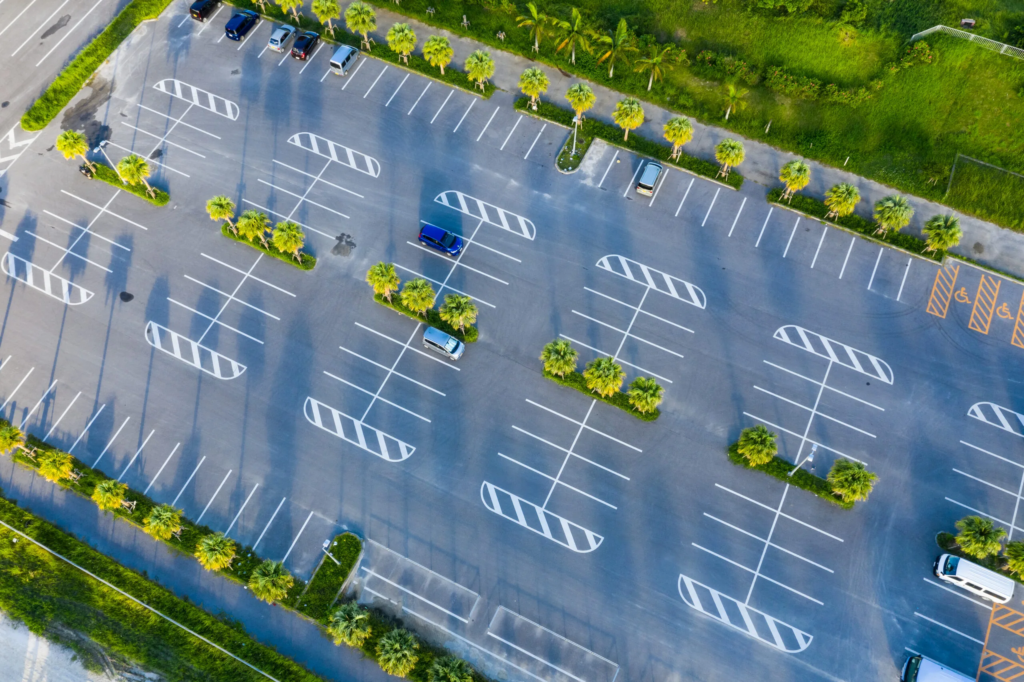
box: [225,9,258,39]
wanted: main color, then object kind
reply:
blue car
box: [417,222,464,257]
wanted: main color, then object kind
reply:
blue car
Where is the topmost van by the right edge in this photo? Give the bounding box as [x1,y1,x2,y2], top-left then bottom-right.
[930,551,1014,603]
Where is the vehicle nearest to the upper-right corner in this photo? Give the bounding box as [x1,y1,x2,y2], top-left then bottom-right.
[637,162,665,196]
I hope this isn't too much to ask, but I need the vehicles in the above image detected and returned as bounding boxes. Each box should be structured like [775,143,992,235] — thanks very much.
[225,9,258,39]
[329,43,359,74]
[290,27,322,58]
[417,222,464,257]
[637,162,665,196]
[187,0,219,22]
[898,656,969,682]
[930,551,1014,603]
[267,23,296,50]
[73,162,89,178]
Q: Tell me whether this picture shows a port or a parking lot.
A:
parking lot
